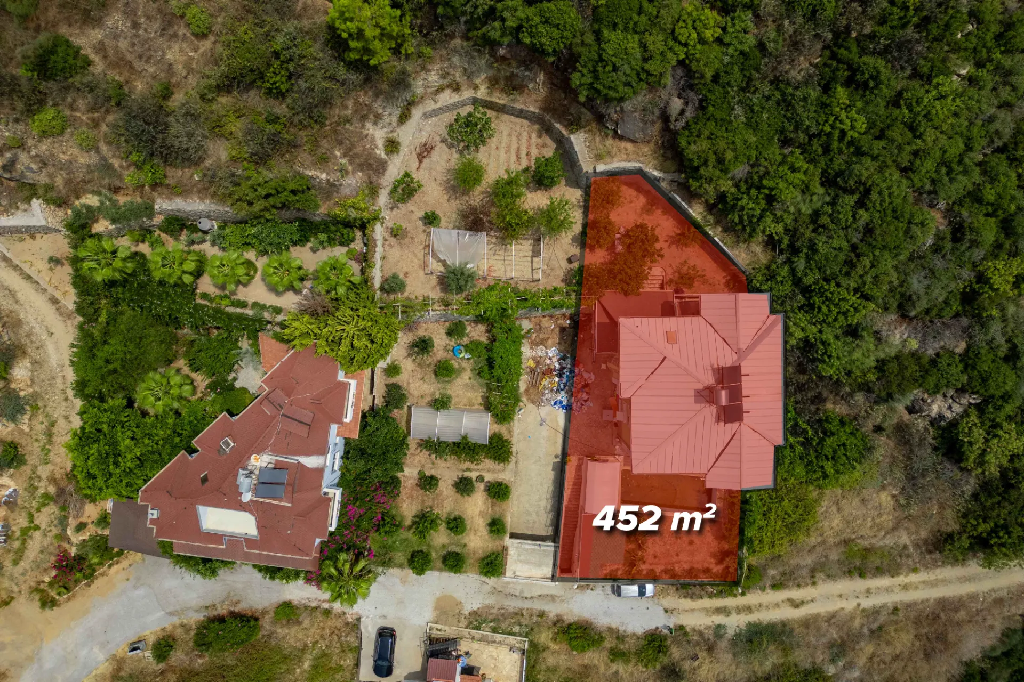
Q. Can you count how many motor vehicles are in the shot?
2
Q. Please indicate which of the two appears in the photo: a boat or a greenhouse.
greenhouse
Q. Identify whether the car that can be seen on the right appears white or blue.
white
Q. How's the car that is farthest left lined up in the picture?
up and down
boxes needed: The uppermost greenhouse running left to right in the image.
[428,231,542,280]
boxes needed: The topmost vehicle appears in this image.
[610,579,655,605]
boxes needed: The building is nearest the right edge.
[612,291,788,490]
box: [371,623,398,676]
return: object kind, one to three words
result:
car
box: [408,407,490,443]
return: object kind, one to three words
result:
greenhouse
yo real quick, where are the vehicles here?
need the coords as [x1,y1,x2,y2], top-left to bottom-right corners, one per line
[610,579,655,605]
[371,623,398,676]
